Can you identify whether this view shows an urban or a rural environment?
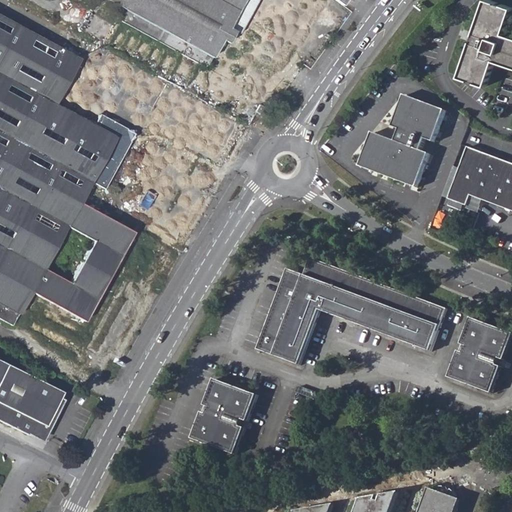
urban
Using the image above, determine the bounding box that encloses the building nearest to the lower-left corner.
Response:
[0,358,72,442]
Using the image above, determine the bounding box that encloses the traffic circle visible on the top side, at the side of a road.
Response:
[255,134,318,196]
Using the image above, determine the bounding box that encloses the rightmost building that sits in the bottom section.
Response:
[446,316,512,392]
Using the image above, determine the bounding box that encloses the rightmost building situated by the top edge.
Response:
[454,2,512,90]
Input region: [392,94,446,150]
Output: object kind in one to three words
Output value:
building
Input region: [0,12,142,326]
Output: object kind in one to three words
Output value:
building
